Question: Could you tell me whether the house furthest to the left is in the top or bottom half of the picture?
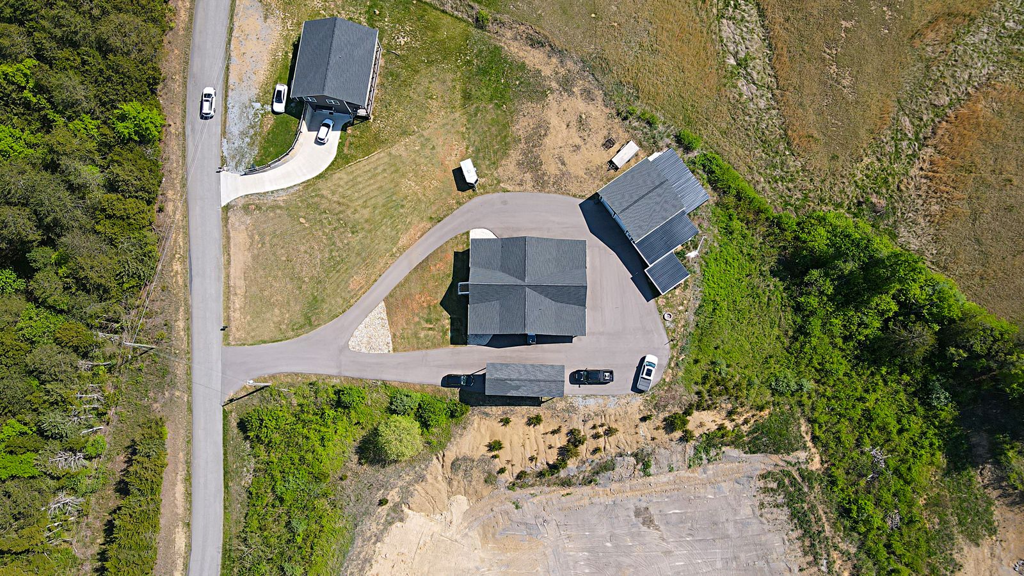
top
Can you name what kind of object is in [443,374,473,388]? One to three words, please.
car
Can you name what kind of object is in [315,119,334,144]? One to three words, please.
car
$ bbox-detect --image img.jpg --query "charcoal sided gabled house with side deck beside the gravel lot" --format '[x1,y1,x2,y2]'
[291,17,386,134]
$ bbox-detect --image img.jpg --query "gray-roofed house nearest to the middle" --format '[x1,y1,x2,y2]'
[457,236,588,348]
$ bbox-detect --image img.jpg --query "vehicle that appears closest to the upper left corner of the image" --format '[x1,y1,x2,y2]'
[200,90,216,117]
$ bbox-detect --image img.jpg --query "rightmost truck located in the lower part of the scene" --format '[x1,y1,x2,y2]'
[636,354,657,394]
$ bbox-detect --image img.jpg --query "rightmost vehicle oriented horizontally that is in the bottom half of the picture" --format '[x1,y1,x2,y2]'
[573,369,613,384]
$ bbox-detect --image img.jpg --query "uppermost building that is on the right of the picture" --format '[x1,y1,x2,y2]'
[597,148,709,266]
